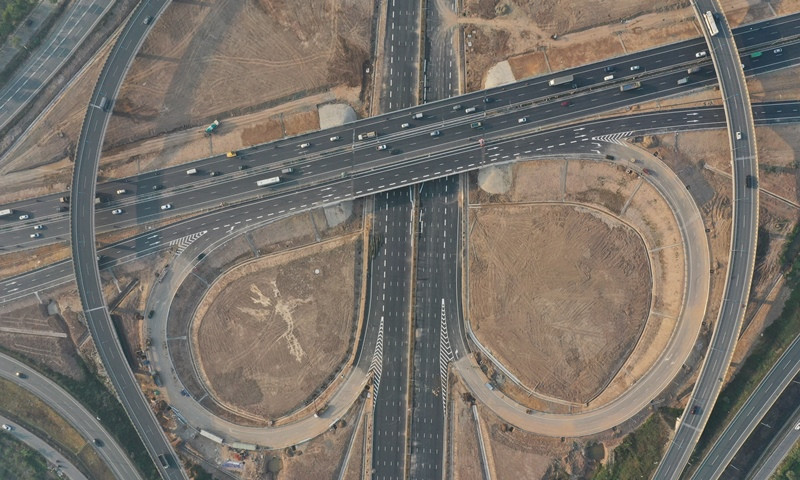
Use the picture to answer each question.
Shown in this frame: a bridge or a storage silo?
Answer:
bridge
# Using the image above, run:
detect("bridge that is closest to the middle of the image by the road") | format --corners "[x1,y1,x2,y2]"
[344,91,490,199]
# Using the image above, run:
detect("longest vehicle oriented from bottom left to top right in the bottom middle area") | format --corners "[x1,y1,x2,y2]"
[310,408,327,421]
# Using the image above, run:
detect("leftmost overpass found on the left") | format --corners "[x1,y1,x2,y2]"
[67,0,192,480]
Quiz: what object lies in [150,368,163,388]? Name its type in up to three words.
vehicle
